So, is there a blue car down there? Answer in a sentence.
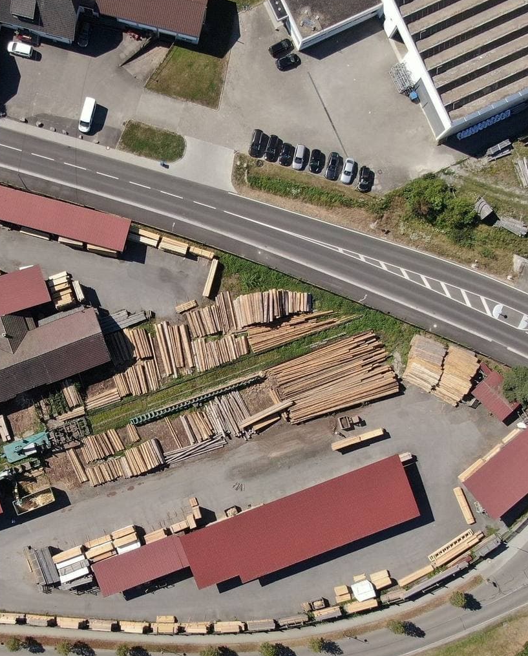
No, there is no blue car in the image.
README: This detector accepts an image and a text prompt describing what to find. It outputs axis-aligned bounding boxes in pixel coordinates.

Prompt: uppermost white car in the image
[8,42,34,58]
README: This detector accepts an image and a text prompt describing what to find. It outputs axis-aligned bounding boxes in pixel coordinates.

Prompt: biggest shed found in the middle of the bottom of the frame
[178,454,420,589]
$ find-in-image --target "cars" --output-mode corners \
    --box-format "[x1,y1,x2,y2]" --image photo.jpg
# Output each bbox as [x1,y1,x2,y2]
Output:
[275,55,301,73]
[267,40,293,60]
[250,130,266,159]
[355,166,371,193]
[265,135,280,164]
[279,143,294,168]
[307,149,322,176]
[292,143,308,172]
[8,42,34,58]
[340,158,355,186]
[324,152,341,182]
